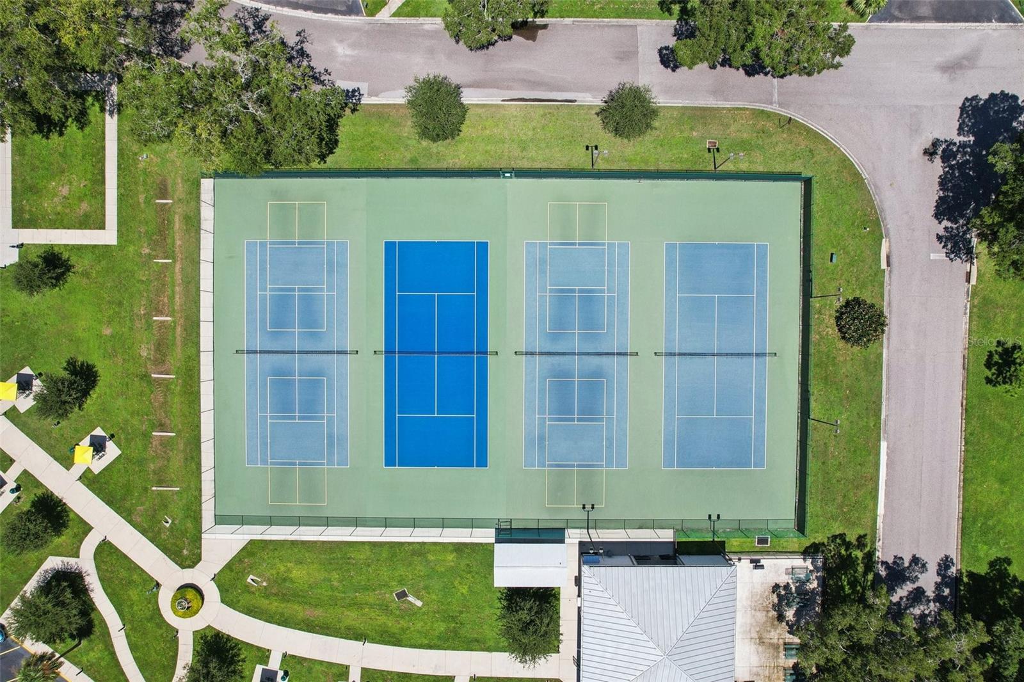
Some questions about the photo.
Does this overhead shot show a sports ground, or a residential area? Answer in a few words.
sports ground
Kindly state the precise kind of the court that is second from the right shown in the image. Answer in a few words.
tennis court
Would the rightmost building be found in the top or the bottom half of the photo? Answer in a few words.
bottom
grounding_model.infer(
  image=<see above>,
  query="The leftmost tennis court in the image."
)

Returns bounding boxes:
[214,179,367,528]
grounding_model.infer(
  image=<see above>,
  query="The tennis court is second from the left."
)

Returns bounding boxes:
[366,179,507,529]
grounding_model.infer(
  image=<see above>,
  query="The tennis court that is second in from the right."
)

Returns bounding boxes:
[507,179,648,530]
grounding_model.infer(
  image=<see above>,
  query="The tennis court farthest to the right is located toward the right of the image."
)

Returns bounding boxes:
[647,179,802,530]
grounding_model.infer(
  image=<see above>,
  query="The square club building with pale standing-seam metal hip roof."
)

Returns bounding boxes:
[580,555,737,682]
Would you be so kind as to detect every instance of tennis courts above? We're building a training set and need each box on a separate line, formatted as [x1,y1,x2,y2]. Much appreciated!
[214,179,367,528]
[366,179,507,529]
[647,179,802,530]
[507,179,648,530]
